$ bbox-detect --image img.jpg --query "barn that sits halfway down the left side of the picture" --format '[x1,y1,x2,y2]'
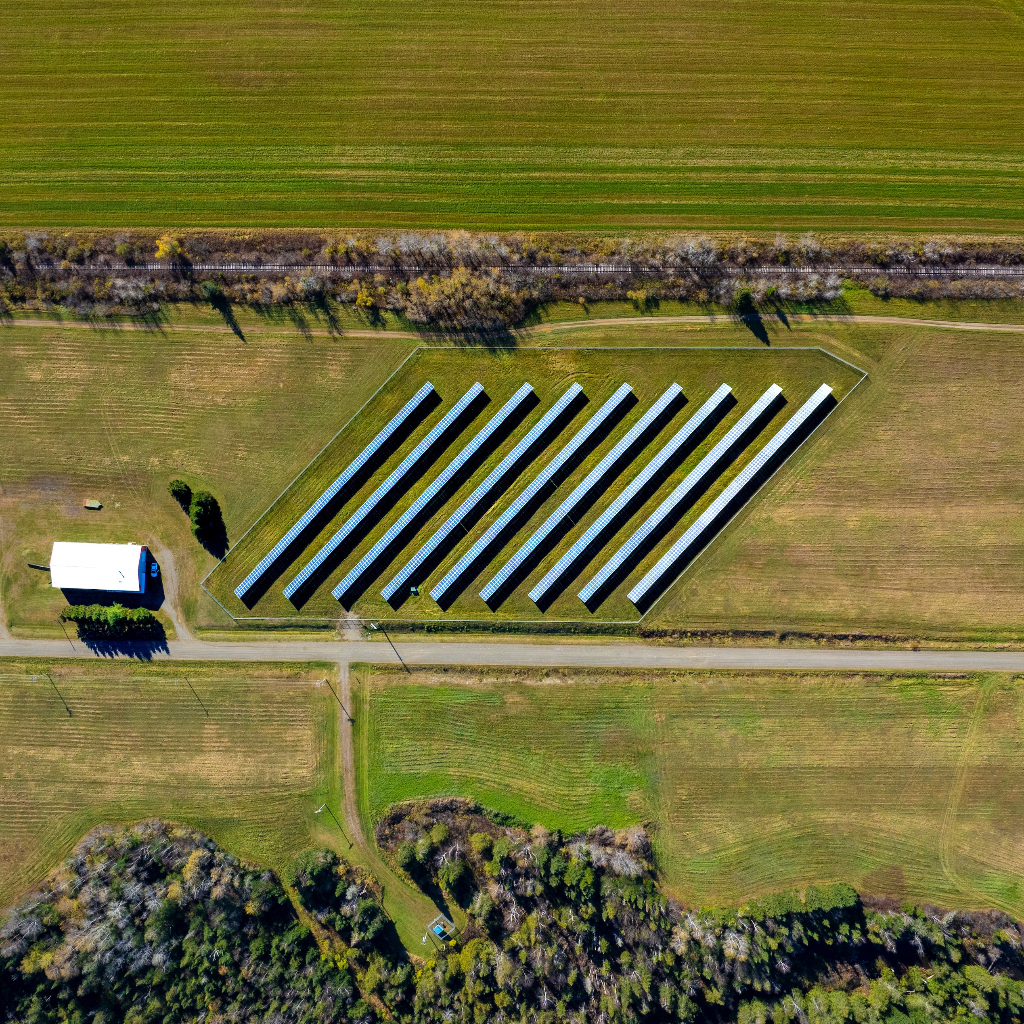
[50,542,146,592]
